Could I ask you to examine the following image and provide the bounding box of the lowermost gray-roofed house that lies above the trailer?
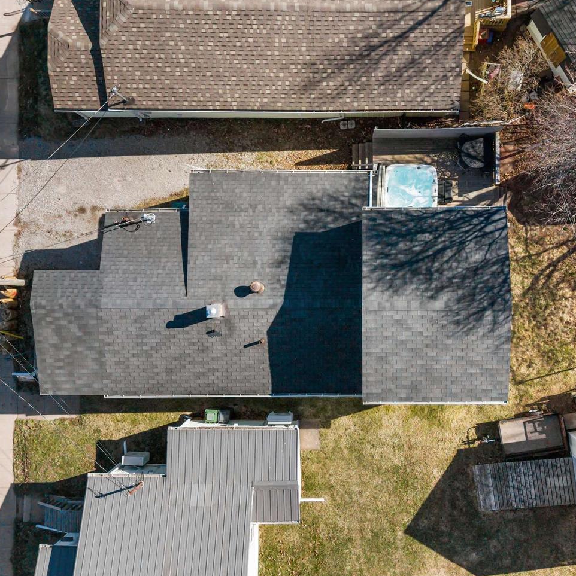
[13,167,514,408]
